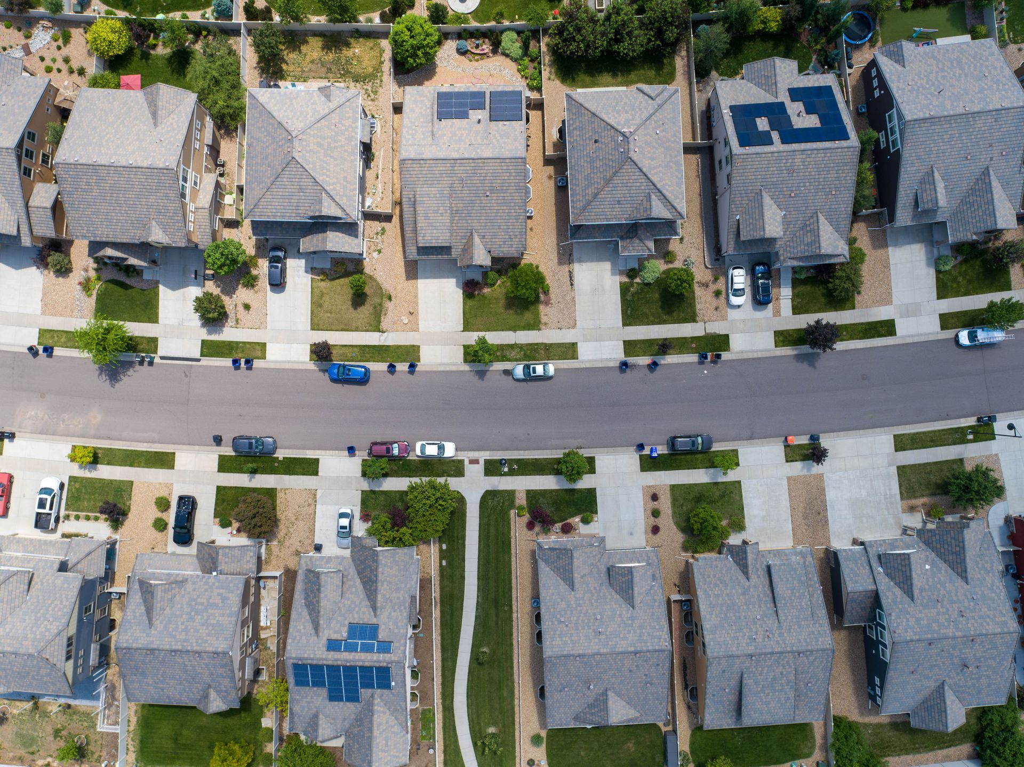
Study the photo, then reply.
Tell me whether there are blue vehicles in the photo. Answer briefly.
Yes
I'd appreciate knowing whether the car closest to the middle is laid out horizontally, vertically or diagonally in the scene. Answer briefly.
horizontally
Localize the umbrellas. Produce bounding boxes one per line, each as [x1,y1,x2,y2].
[123,75,142,90]
[59,83,80,109]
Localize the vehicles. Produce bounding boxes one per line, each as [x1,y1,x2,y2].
[725,265,747,305]
[328,362,371,382]
[231,435,278,456]
[266,245,288,287]
[0,470,14,519]
[954,327,1007,348]
[512,362,555,382]
[415,440,456,460]
[367,440,410,460]
[750,262,773,306]
[334,506,354,549]
[666,432,712,453]
[35,476,65,531]
[172,492,198,546]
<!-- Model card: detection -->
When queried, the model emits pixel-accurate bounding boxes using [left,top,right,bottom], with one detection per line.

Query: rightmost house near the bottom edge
[829,512,1024,737]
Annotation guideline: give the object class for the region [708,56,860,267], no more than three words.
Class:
house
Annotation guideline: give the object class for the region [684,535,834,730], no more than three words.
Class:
house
